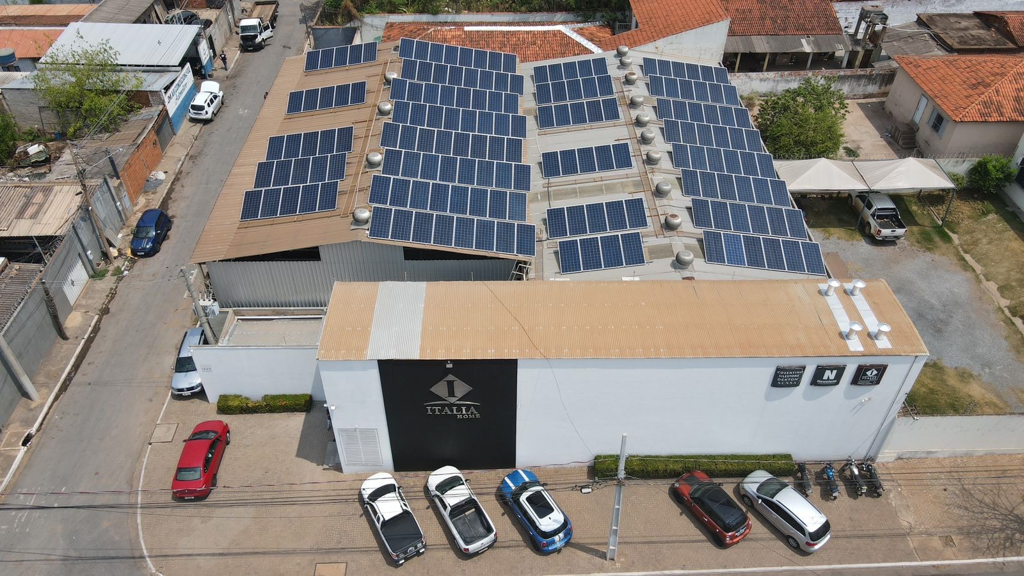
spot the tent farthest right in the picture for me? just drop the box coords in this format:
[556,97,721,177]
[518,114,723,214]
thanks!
[853,159,958,228]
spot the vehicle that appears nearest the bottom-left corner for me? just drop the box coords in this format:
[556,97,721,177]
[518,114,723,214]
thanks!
[168,414,228,496]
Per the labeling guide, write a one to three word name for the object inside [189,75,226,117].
car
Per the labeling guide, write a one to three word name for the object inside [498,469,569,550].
car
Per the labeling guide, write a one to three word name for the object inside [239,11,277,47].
truck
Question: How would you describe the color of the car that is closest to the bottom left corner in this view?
red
